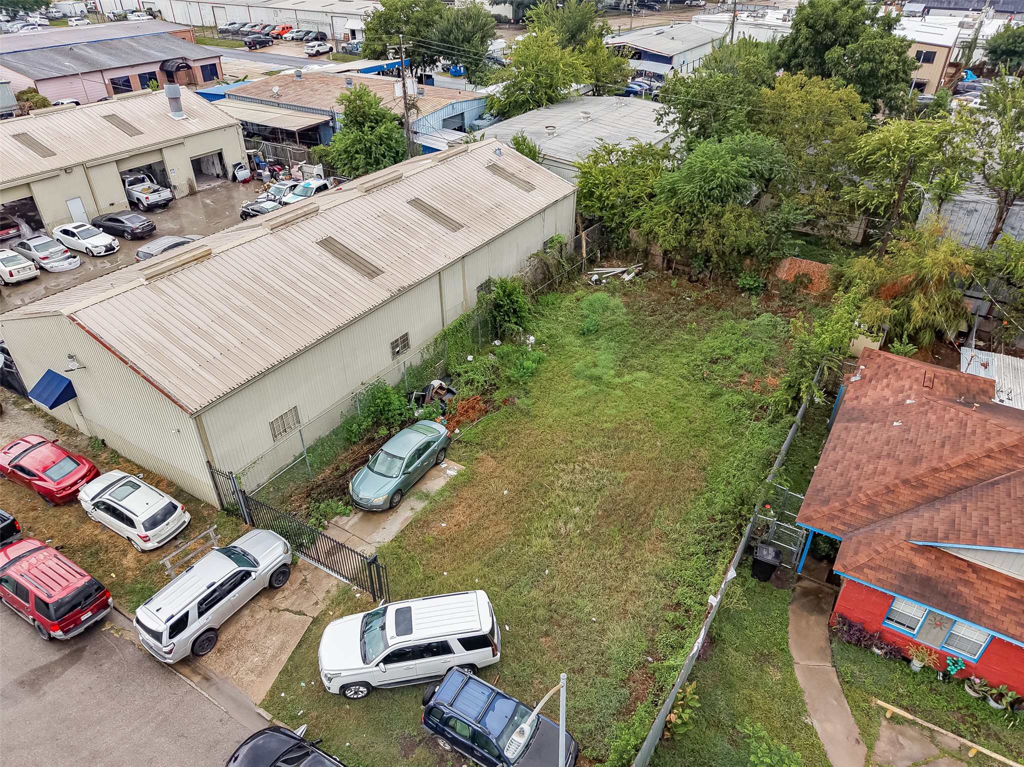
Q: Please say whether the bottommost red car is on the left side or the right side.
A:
left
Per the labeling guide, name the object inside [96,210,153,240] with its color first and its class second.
gray car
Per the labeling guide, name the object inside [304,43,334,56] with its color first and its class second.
white vehicle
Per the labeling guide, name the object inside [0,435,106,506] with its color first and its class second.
red car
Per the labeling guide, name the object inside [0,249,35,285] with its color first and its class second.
white car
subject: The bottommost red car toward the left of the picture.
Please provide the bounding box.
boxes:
[0,536,110,643]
